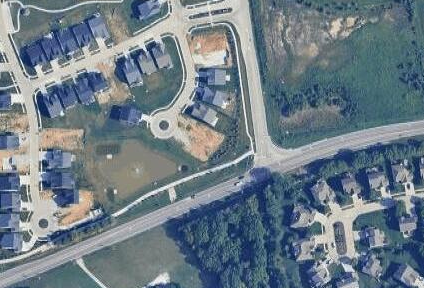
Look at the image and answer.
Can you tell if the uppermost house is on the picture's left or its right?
left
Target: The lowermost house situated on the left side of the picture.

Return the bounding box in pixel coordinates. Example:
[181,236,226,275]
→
[0,230,21,250]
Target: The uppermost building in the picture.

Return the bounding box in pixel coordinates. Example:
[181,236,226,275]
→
[134,0,159,21]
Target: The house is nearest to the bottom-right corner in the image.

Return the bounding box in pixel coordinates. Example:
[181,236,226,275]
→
[394,259,423,286]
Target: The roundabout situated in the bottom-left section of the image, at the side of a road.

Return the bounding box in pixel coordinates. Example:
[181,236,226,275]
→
[28,209,58,237]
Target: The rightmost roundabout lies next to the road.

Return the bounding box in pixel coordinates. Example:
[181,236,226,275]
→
[149,111,178,139]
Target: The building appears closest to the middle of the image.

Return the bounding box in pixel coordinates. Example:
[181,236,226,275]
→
[185,102,219,128]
